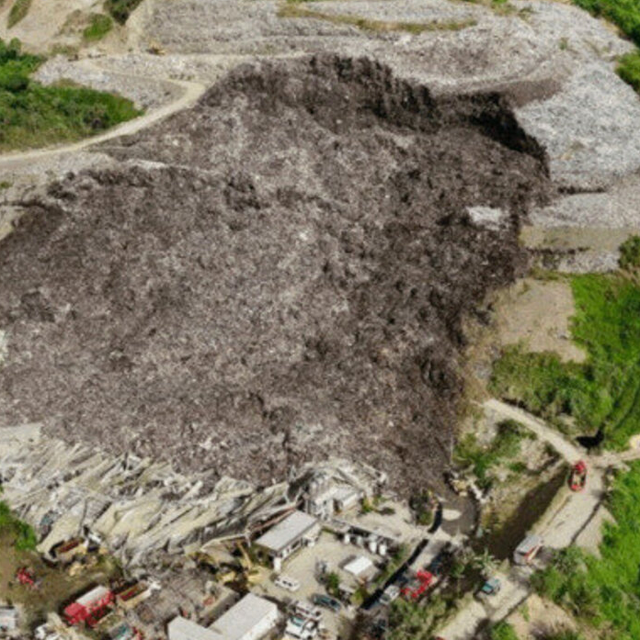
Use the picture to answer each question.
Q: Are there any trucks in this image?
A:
Yes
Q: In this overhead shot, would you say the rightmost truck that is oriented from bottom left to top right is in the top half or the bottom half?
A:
bottom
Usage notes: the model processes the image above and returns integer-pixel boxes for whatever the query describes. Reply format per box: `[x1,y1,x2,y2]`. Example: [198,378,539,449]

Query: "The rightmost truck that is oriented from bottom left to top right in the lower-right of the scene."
[510,521,554,568]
